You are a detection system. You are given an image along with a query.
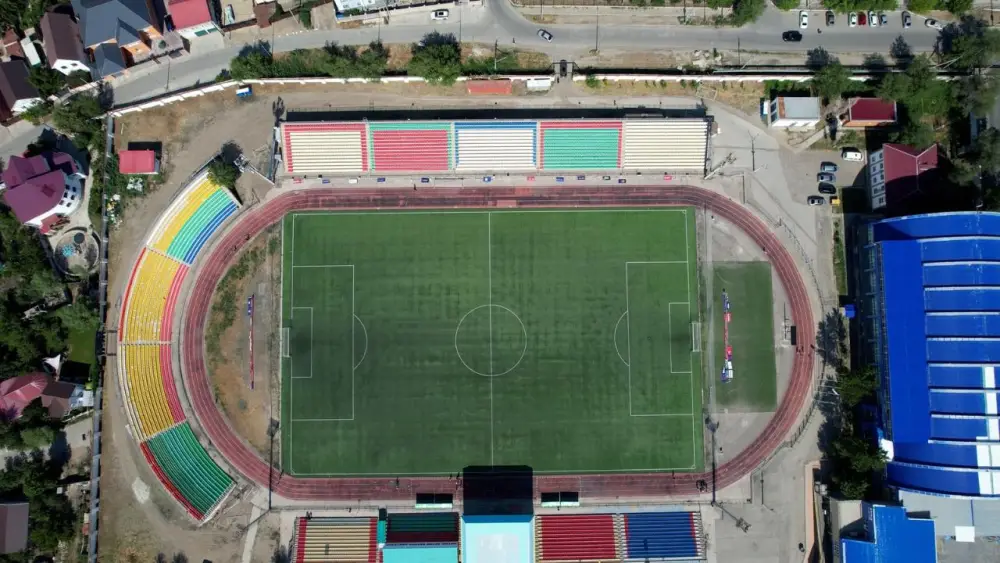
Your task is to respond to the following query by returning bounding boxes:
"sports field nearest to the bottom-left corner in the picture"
[280,208,706,476]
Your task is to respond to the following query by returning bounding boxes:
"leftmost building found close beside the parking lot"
[771,97,820,124]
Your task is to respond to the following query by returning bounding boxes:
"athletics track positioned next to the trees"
[183,184,817,502]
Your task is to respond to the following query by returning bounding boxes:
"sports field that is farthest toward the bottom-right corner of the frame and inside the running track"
[714,261,777,414]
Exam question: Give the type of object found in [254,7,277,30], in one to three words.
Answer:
shed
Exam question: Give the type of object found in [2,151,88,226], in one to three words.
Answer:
house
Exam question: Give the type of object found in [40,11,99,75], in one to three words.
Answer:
house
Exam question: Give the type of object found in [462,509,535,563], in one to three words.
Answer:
building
